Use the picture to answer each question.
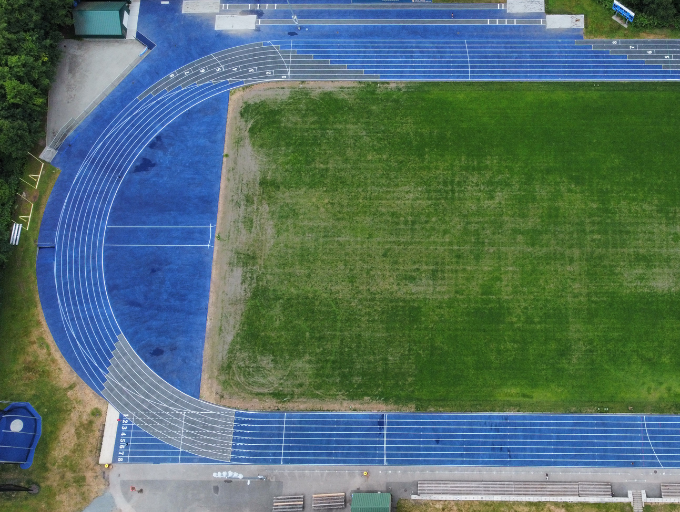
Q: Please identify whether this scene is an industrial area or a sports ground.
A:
sports ground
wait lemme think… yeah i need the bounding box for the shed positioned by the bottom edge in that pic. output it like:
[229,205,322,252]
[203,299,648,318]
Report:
[351,491,392,512]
